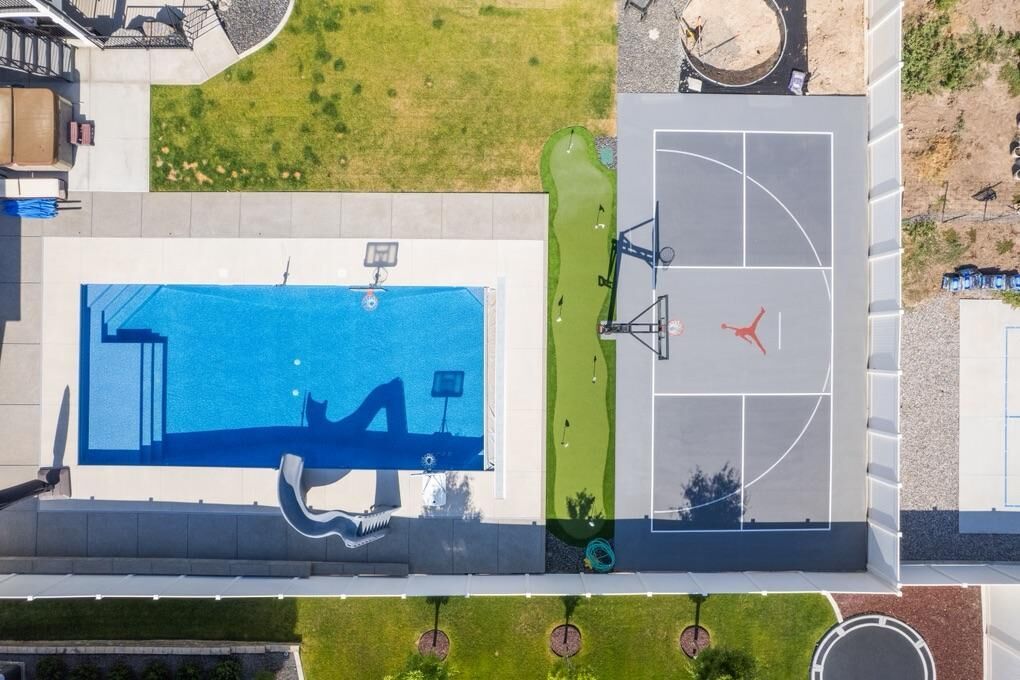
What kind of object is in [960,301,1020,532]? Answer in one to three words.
sports court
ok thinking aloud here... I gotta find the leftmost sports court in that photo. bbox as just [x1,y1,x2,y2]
[616,93,867,573]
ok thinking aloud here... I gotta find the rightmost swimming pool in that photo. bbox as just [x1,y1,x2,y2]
[77,268,505,499]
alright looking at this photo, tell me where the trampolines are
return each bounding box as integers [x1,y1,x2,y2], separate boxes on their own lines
[809,611,935,680]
